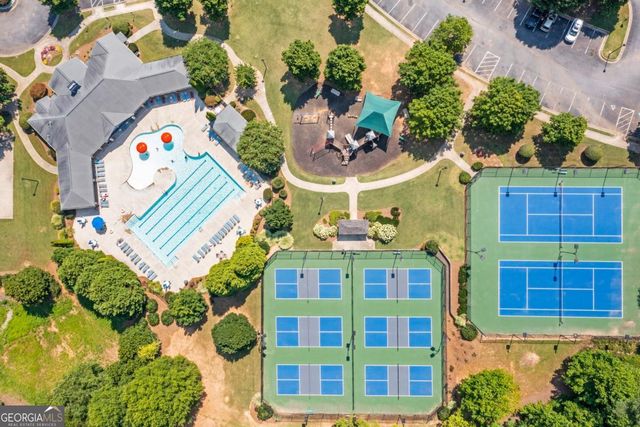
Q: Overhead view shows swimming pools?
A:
Yes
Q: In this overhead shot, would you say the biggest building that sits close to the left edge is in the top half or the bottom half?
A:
top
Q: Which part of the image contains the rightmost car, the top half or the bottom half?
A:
top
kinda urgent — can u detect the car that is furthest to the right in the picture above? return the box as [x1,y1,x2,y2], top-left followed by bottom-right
[565,18,585,44]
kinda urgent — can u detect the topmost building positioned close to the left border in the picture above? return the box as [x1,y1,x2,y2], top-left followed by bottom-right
[28,32,197,210]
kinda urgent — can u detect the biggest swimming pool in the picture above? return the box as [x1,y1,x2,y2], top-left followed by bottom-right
[124,123,246,268]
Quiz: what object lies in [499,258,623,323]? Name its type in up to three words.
tennis court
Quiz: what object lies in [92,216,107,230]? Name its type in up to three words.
umbrella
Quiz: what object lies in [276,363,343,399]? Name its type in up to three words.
sports court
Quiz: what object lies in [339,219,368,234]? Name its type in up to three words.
building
